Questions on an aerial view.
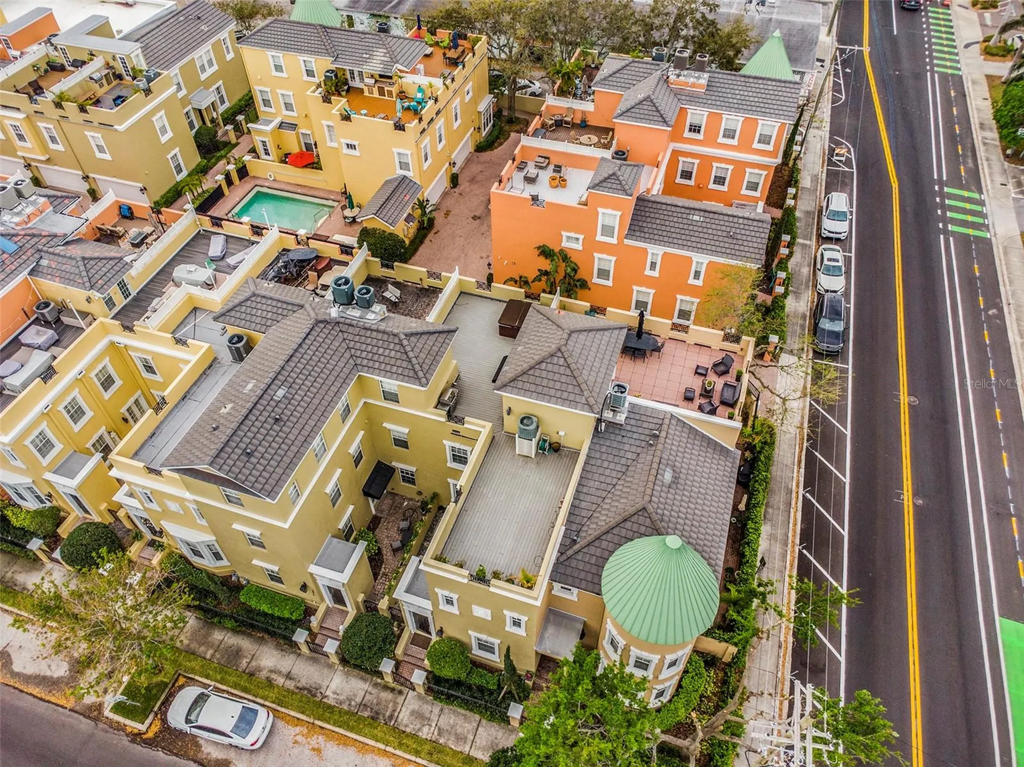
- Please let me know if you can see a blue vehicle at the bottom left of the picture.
No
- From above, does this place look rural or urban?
urban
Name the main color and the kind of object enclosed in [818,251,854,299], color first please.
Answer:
white car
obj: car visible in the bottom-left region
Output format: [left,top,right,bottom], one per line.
[162,685,273,756]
